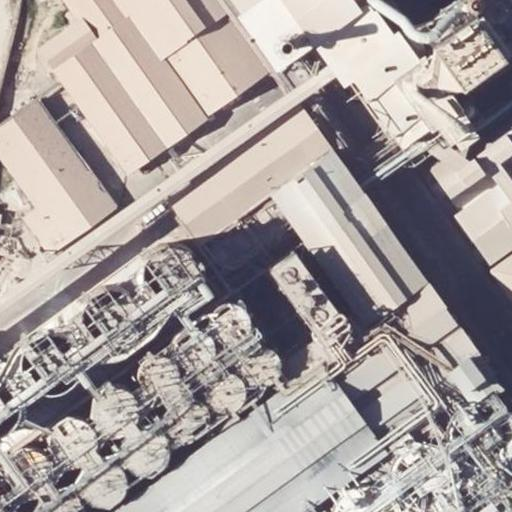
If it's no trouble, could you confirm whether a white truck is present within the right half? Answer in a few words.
No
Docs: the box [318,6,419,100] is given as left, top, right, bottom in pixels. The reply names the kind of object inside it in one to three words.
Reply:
building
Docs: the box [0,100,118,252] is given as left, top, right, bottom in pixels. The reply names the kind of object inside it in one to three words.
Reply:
shed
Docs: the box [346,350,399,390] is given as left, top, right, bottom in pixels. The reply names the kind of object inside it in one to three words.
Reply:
building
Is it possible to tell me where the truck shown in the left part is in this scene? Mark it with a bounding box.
[140,202,169,226]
